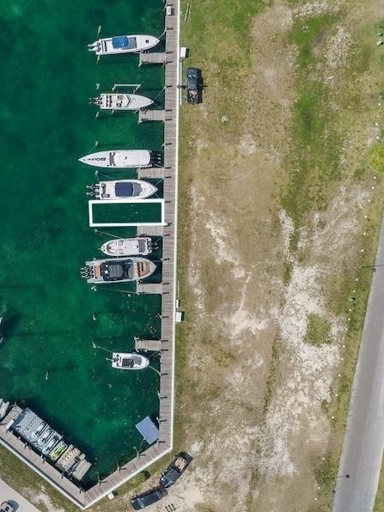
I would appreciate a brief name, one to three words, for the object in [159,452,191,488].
truck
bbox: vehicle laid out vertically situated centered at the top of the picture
[184,68,201,105]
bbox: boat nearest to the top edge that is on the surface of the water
[88,32,163,55]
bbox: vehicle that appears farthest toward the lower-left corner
[0,499,15,512]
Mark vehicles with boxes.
[132,485,169,511]
[159,452,191,488]
[0,499,15,512]
[184,68,201,105]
